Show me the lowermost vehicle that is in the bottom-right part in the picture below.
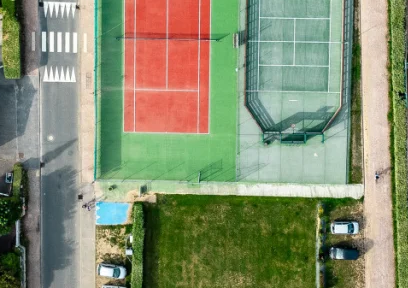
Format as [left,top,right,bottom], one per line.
[329,244,360,261]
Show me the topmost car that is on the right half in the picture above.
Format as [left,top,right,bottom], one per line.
[330,218,359,235]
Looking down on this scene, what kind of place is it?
sports ground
